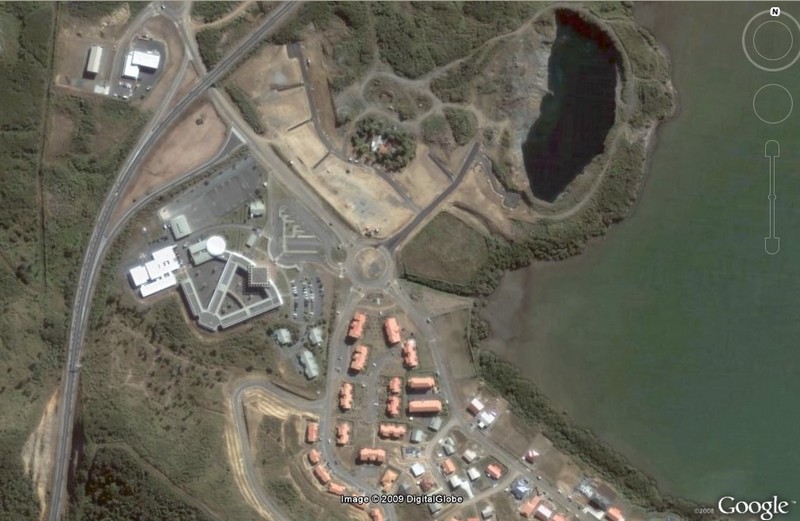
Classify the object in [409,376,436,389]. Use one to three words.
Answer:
building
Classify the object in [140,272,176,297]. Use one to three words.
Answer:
building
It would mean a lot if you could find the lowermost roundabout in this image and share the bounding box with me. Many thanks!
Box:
[338,238,399,303]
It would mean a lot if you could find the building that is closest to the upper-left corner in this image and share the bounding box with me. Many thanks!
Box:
[86,45,102,73]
